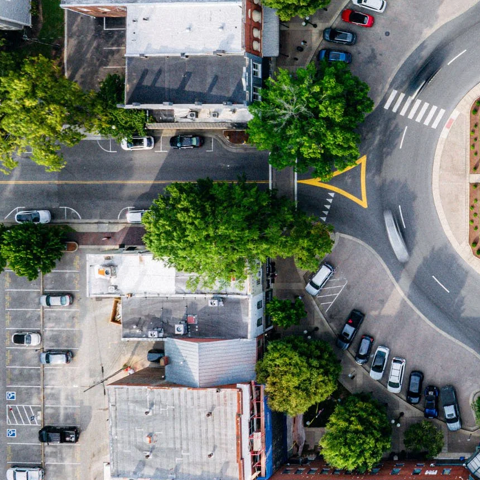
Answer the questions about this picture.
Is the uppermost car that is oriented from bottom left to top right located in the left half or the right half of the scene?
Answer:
right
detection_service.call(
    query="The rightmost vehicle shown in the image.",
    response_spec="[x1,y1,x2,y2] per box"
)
[441,385,463,430]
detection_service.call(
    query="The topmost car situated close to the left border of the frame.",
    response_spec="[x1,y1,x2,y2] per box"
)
[15,208,51,224]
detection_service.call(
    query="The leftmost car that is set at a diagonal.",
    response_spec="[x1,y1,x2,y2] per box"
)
[305,262,335,296]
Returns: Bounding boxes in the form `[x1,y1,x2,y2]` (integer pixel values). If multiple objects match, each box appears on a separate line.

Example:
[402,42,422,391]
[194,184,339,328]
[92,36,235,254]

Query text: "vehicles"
[423,386,440,417]
[410,56,444,94]
[343,8,375,28]
[305,262,335,296]
[338,307,367,350]
[121,135,157,152]
[352,0,387,14]
[124,207,161,225]
[406,370,424,405]
[355,334,375,365]
[7,465,48,480]
[39,425,83,444]
[15,208,51,224]
[384,216,409,256]
[323,26,359,47]
[370,345,391,381]
[170,134,205,151]
[386,357,405,393]
[11,332,43,348]
[39,350,74,367]
[40,293,75,309]
[441,385,463,430]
